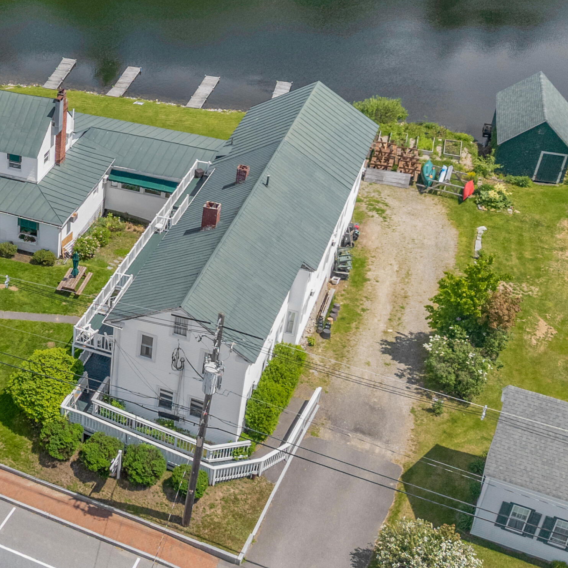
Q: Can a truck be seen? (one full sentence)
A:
No, there isn't any truck down there.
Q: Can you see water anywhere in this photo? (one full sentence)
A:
Yes, there is water in the image.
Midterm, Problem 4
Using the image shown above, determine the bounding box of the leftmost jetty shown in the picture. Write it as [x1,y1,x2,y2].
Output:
[43,57,76,89]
